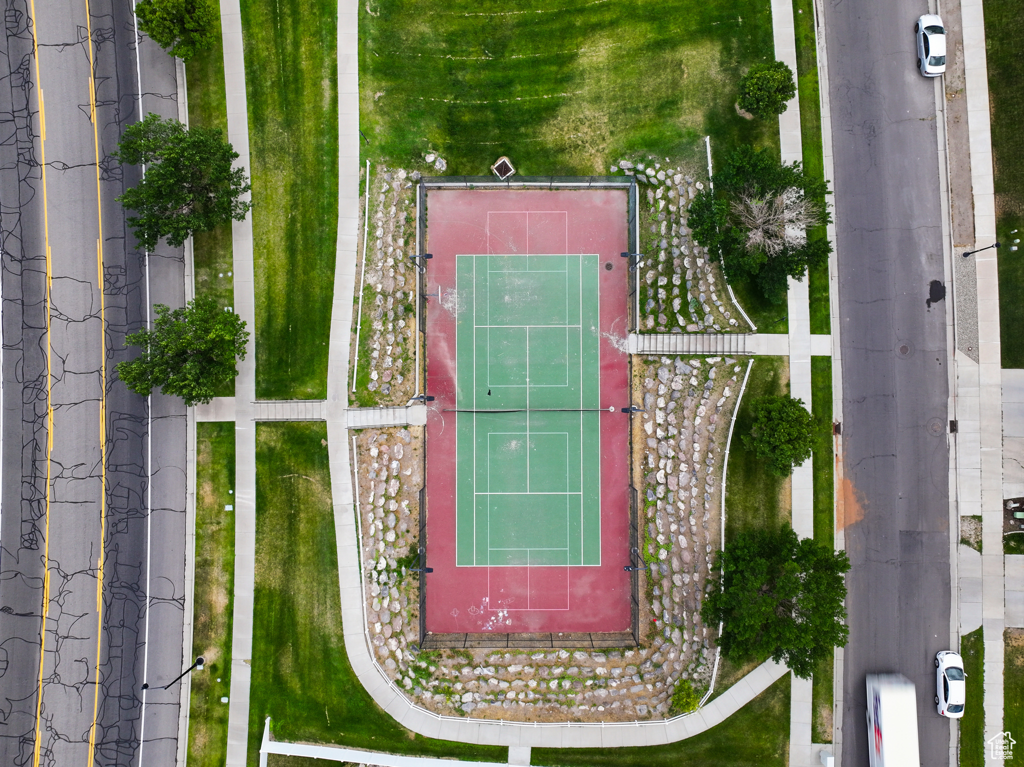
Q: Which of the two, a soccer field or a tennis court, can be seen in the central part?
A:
tennis court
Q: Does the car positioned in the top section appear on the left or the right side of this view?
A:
right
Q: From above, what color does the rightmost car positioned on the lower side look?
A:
white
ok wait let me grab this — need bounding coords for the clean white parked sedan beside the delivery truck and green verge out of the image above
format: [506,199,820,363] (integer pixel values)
[932,650,970,717]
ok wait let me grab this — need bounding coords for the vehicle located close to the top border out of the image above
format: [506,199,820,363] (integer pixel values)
[912,15,949,80]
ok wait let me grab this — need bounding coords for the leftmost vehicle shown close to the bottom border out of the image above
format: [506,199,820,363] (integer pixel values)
[865,670,919,767]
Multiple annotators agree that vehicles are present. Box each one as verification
[912,15,949,80]
[932,650,970,717]
[865,670,919,767]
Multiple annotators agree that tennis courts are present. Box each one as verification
[426,190,631,633]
